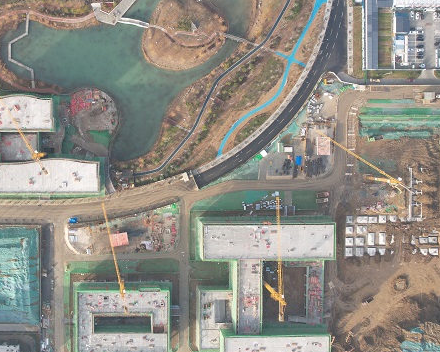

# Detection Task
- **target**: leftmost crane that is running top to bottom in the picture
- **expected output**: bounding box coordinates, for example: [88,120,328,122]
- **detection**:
[101,203,126,318]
